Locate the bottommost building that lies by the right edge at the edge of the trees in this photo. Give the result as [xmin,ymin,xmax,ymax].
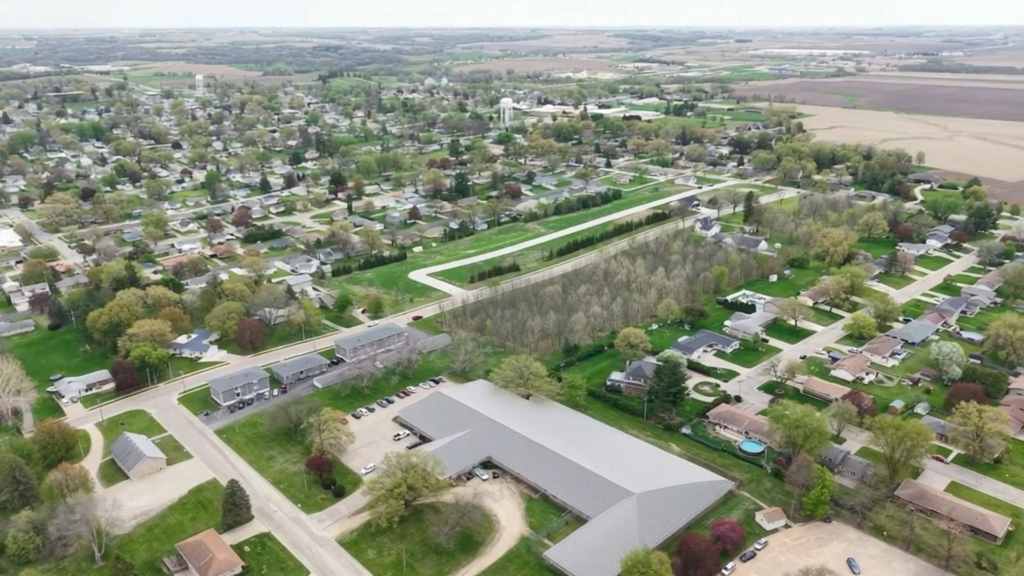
[894,481,1007,547]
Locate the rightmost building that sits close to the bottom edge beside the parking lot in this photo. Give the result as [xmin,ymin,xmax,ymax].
[397,379,733,576]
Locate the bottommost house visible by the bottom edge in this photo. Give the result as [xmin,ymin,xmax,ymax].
[185,524,243,576]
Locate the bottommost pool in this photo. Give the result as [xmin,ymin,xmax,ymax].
[736,438,765,457]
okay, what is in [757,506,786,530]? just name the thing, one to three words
shed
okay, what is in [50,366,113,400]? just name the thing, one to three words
house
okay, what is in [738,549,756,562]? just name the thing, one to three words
vehicle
